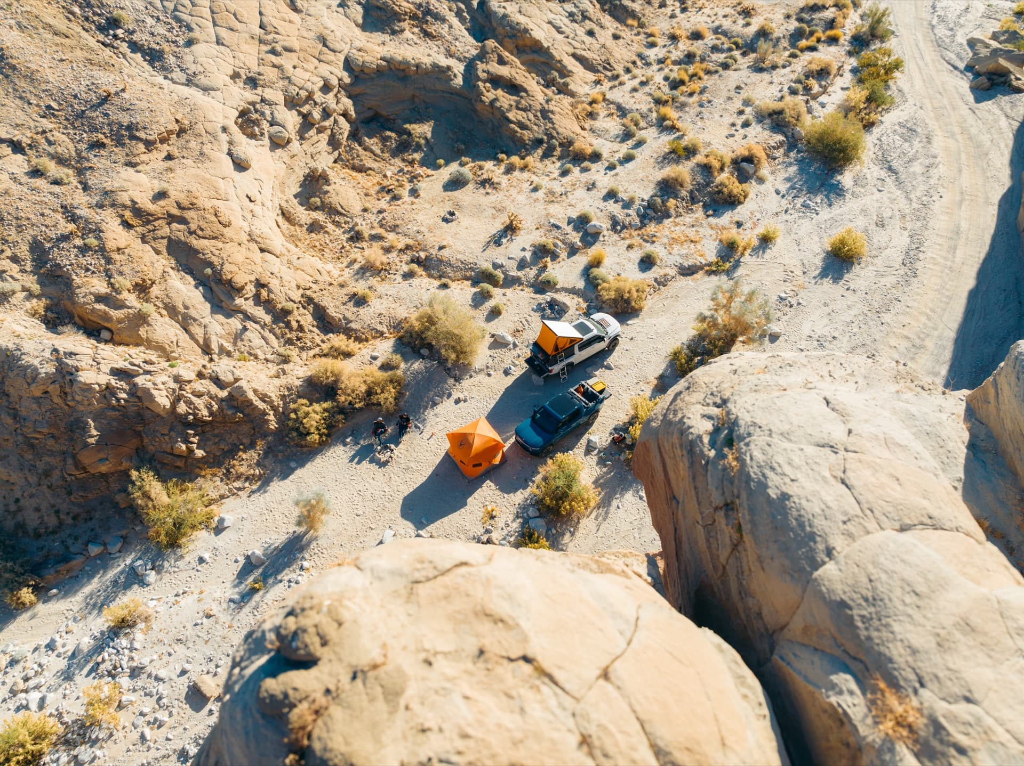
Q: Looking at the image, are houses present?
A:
No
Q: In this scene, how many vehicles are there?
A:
2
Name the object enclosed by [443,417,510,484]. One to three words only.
tent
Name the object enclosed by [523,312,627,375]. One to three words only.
truck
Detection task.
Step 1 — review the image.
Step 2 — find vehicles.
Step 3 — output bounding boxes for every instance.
[523,312,627,375]
[508,380,611,459]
